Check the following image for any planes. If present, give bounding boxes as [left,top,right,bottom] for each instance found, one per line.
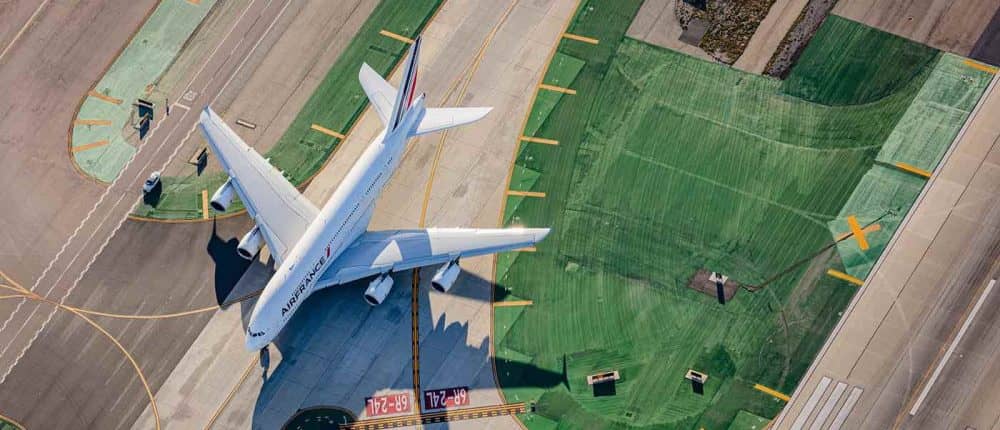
[199,39,552,351]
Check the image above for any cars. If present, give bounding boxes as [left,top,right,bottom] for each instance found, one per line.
[141,173,161,194]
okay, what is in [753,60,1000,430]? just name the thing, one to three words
runway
